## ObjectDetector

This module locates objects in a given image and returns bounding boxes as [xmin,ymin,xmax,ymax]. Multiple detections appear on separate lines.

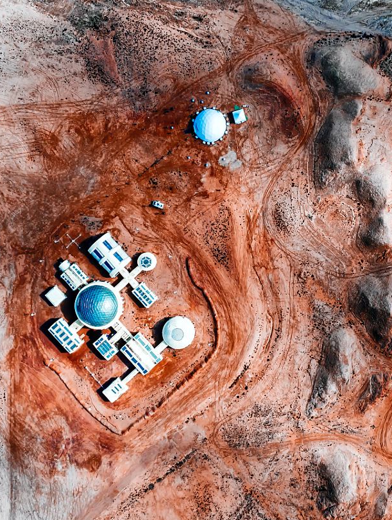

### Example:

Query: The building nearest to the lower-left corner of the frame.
[102,376,128,403]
